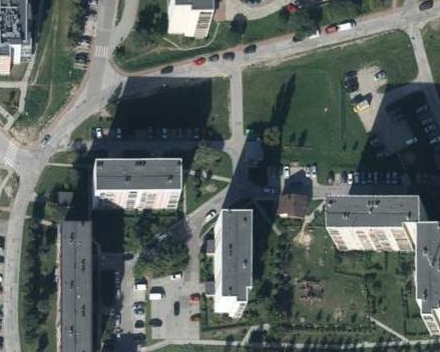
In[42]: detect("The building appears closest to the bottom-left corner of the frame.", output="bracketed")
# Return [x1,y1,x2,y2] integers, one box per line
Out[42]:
[57,221,94,352]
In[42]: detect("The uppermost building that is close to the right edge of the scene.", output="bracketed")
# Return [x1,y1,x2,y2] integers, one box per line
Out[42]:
[325,196,420,250]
